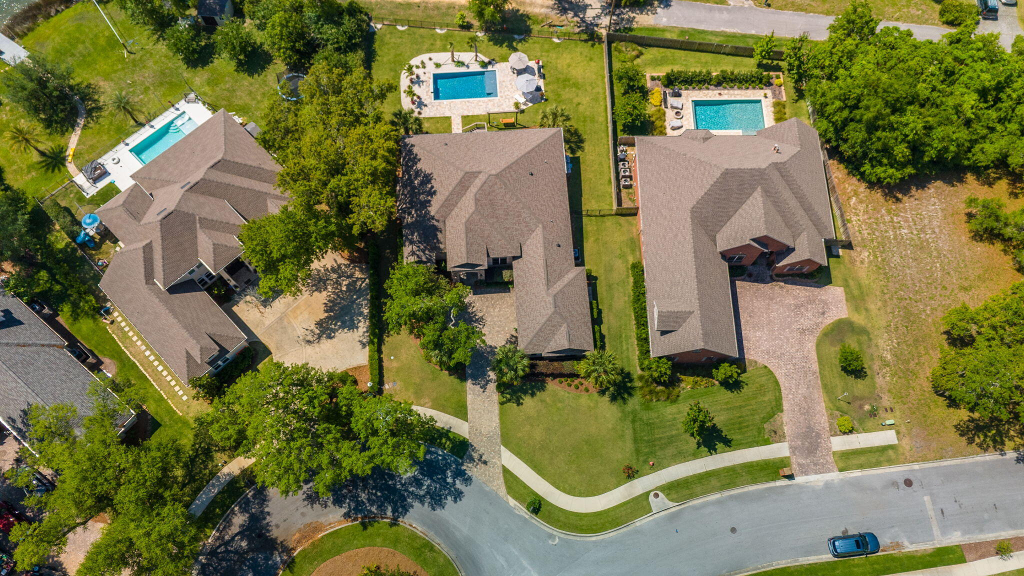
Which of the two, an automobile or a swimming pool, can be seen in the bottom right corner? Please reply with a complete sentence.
You can see an automobile in the bottom right corner.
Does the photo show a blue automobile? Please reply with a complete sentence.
Yes, the picture does show a blue automobile.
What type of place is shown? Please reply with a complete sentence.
What you see here is a residential area.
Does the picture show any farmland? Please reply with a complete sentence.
No, there is no farmland in the image.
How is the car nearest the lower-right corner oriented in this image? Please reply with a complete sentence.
The car nearest the lower-right corner runs from side to side in the image.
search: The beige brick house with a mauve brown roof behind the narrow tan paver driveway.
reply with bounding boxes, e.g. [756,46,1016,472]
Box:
[400,127,594,358]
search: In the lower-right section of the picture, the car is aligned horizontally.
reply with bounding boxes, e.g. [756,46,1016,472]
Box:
[826,531,880,559]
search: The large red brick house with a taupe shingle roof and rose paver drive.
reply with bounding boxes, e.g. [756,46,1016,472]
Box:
[632,117,836,365]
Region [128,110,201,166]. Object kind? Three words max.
swimming pool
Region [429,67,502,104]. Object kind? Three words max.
swimming pool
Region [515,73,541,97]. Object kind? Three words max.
umbrella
